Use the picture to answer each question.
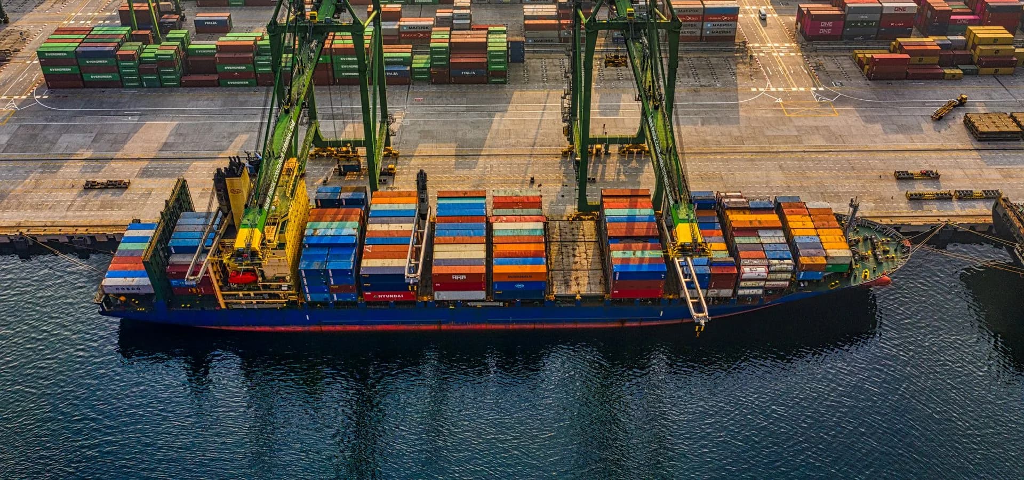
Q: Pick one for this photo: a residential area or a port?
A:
port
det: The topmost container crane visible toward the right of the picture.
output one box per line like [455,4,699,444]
[560,0,732,257]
